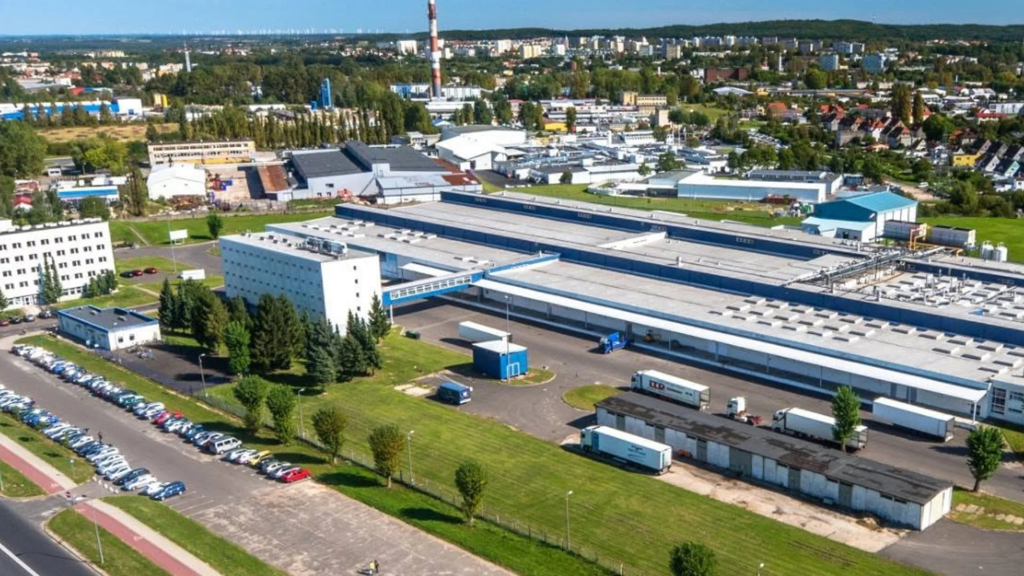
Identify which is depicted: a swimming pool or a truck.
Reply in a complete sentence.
I can see a truck in this picture.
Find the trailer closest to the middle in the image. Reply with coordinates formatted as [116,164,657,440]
[459,322,509,343]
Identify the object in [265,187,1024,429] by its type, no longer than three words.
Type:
building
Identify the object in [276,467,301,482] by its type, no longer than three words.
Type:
car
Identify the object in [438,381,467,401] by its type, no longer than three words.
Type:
vehicle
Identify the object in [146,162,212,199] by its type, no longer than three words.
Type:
barn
